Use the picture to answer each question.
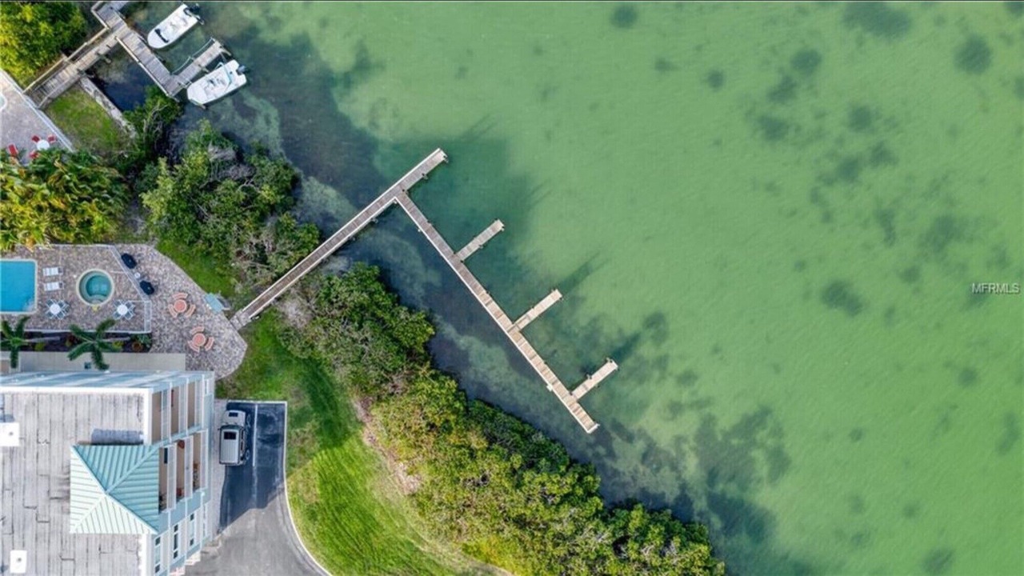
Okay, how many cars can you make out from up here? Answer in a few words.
one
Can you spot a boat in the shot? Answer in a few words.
Yes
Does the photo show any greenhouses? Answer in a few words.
No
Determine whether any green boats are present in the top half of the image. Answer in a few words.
No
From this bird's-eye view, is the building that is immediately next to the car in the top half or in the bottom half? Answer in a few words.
bottom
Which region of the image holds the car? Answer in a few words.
bottom left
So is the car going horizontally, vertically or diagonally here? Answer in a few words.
vertically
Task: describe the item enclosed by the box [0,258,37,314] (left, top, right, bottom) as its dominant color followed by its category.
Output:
blue swimming pool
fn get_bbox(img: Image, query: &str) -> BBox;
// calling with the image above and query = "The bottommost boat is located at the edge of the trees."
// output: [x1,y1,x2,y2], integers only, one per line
[186,59,249,105]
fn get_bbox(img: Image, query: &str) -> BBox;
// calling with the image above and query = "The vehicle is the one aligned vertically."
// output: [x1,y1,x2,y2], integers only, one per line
[220,413,248,469]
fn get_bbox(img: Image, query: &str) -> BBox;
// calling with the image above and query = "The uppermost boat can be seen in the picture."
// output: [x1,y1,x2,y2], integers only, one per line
[145,1,200,45]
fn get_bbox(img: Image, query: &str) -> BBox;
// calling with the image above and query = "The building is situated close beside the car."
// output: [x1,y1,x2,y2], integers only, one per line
[0,371,219,576]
